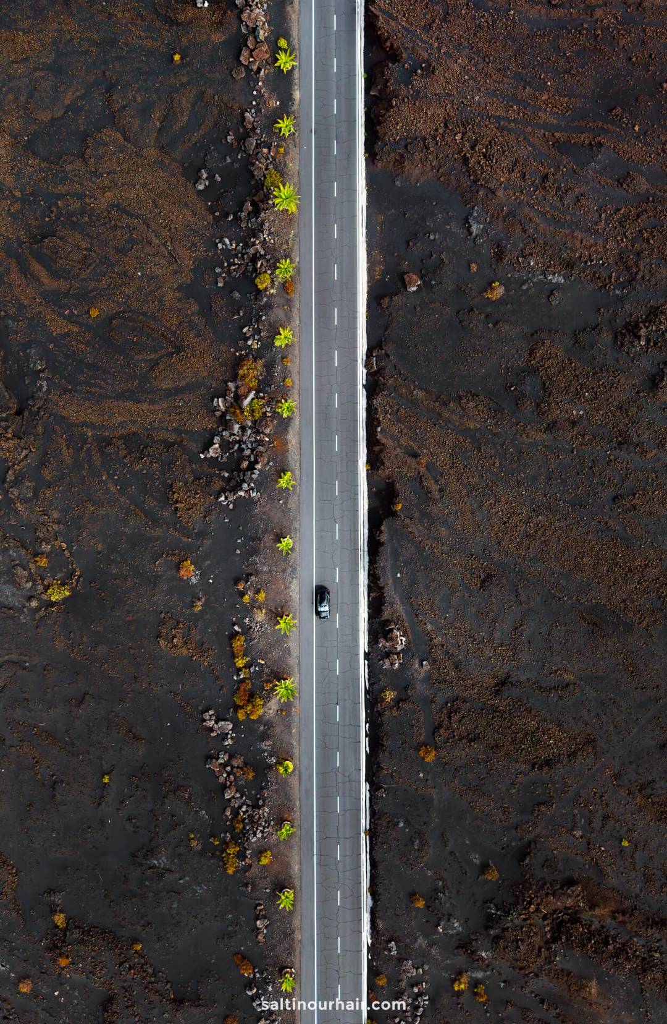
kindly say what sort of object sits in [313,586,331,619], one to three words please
car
